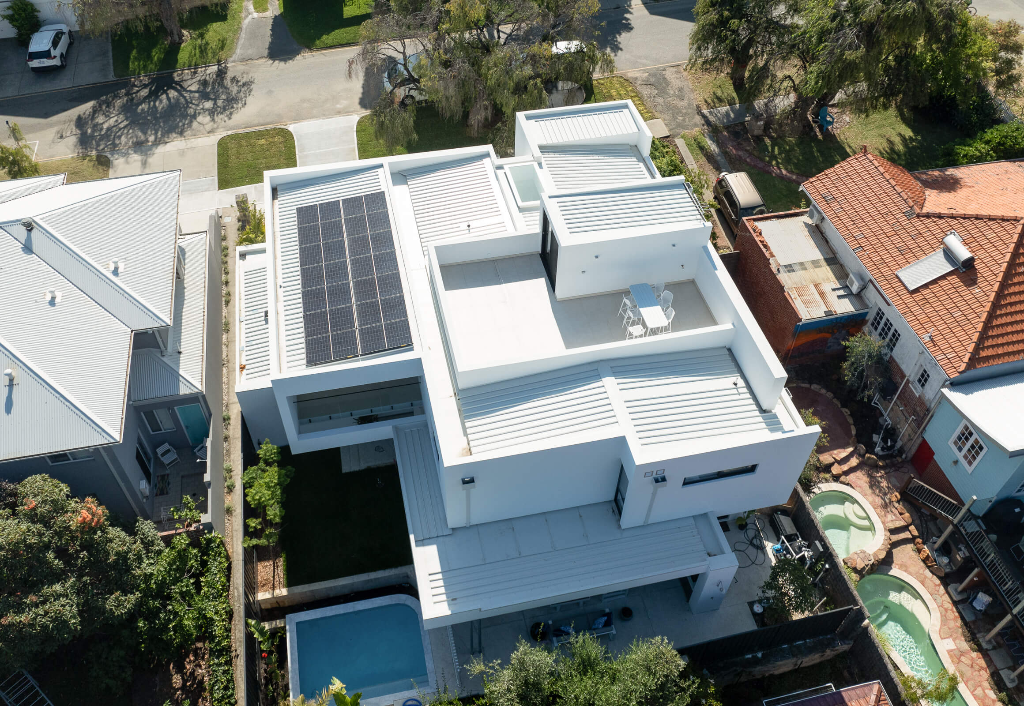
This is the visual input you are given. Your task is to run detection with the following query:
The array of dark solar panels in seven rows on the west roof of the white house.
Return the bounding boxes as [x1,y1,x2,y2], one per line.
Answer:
[294,191,417,368]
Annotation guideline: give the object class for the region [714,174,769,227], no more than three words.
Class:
car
